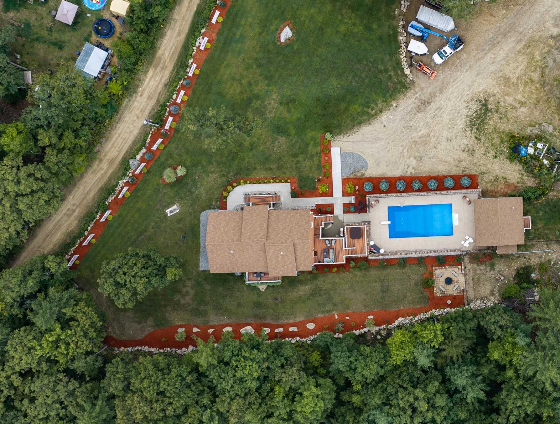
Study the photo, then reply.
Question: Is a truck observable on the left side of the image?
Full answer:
No, there is no truck on the left side of the image.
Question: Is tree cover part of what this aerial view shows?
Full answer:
Yes, there is tree cover in the image.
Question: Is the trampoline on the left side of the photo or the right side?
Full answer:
The trampoline sits on the left side.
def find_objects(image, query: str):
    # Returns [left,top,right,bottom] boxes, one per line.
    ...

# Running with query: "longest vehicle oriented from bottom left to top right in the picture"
[433,34,465,63]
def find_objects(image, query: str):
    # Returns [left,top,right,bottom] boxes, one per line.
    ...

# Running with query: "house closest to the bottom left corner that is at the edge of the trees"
[204,194,311,283]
